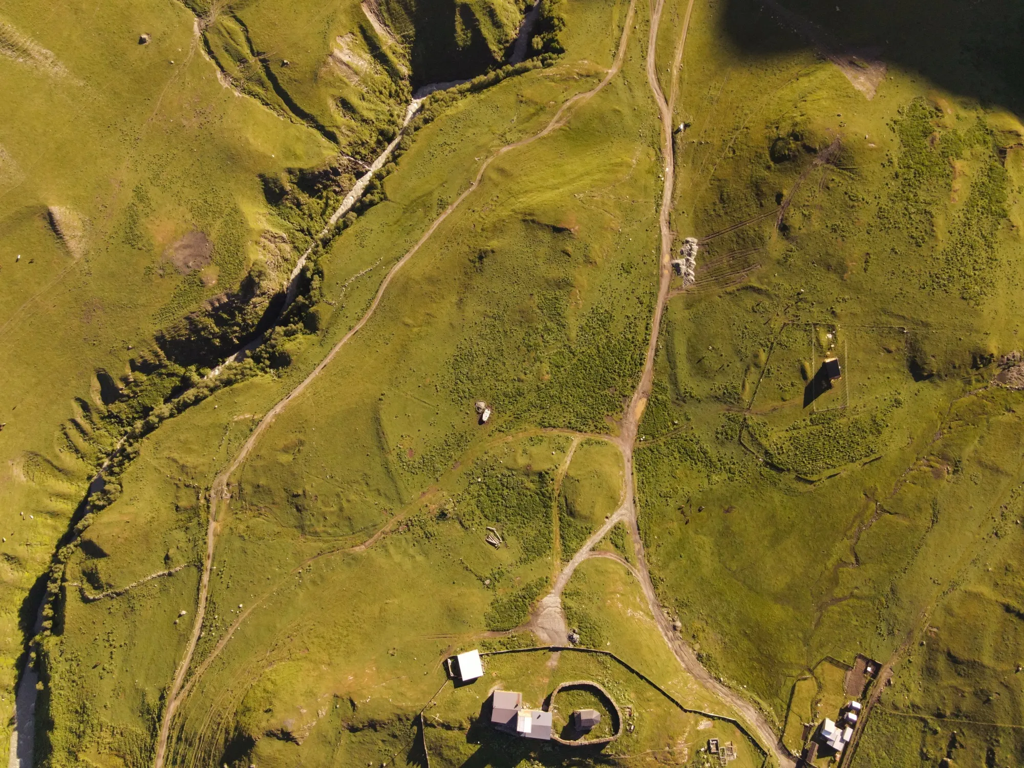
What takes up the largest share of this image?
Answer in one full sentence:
Most of the picture is covered by grass.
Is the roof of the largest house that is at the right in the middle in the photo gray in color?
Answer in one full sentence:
No, from above the roof of the largest house that is at the right in the middle looks black.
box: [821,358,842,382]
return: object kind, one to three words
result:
house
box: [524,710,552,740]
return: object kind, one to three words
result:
house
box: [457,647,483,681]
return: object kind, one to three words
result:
barn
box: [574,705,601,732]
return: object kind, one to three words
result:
building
